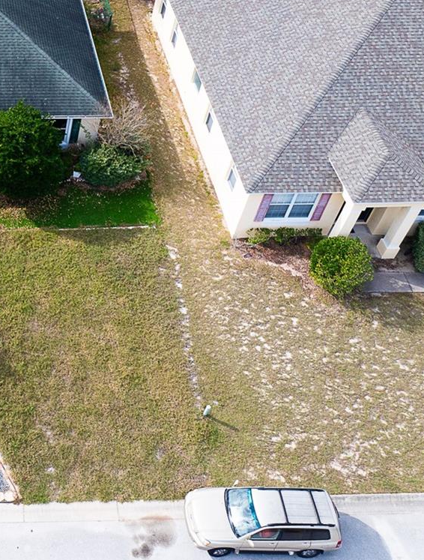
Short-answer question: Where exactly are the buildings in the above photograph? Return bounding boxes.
[0,0,115,153]
[157,0,424,258]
